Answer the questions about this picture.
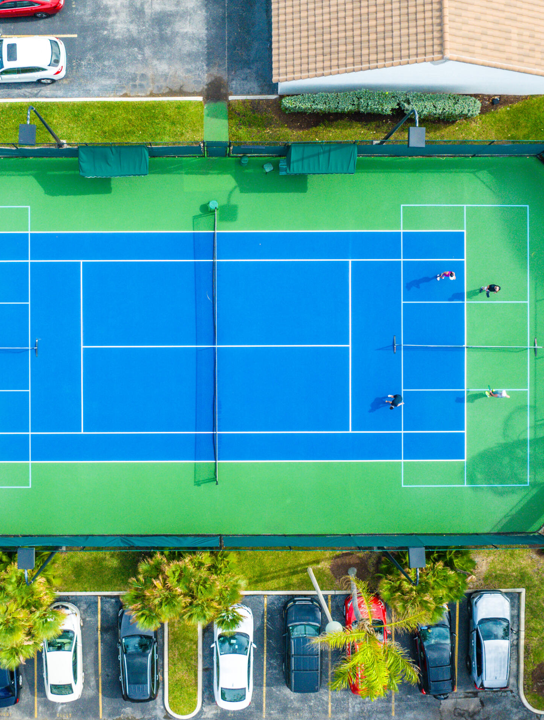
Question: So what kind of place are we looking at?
sports ground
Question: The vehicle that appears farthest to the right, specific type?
automobile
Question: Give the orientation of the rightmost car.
up and down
